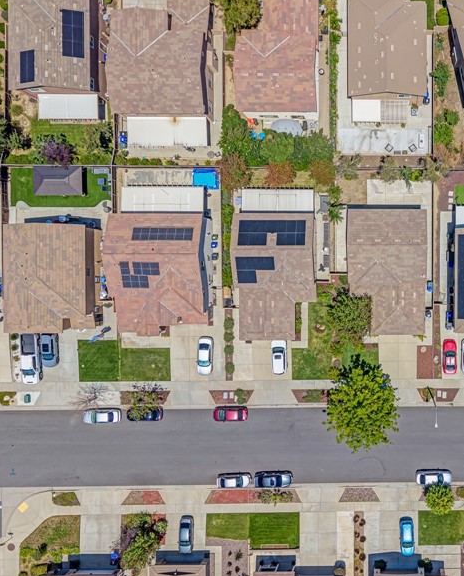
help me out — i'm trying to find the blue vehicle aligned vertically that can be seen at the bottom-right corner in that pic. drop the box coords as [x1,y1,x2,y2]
[397,517,416,555]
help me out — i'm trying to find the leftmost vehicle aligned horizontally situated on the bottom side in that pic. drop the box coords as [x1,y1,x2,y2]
[83,408,121,426]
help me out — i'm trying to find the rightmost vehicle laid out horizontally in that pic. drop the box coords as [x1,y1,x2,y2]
[415,469,452,486]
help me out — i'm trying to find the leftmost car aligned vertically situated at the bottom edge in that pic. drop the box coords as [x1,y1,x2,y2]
[176,516,194,553]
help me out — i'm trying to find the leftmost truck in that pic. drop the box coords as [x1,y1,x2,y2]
[17,335,40,383]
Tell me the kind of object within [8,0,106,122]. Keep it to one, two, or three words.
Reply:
house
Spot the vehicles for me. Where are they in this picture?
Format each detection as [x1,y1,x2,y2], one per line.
[127,406,165,423]
[441,338,459,375]
[37,332,58,368]
[215,472,253,490]
[195,336,213,375]
[397,517,416,555]
[176,516,194,553]
[83,408,121,426]
[269,340,287,374]
[415,469,452,486]
[17,335,40,383]
[213,406,249,424]
[254,470,292,489]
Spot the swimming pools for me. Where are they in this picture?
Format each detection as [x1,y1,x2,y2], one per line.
[192,169,225,192]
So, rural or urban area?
urban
